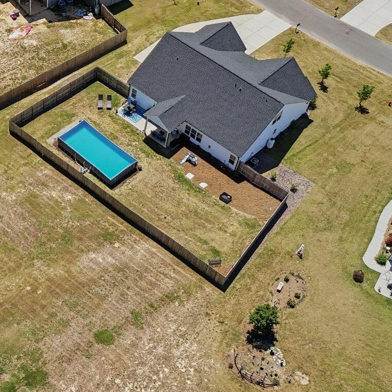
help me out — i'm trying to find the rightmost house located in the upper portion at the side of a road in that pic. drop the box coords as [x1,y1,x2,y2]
[129,22,316,170]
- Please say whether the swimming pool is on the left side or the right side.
left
